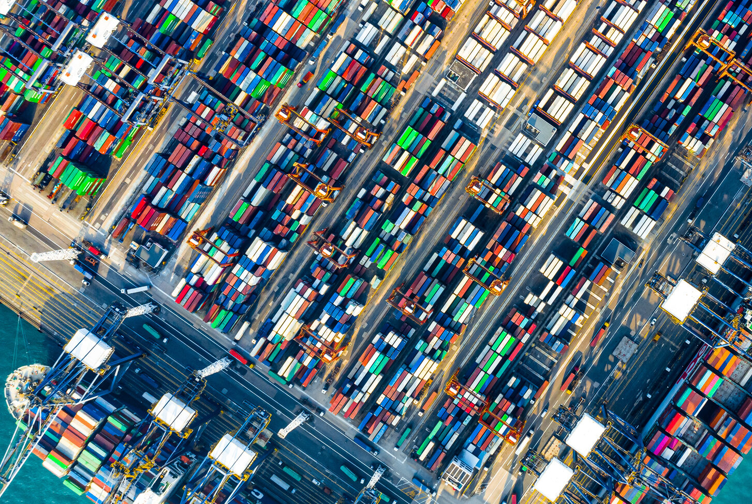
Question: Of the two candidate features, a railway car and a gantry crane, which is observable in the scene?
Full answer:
There is a gantry crane in the scene.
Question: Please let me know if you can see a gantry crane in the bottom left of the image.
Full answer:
Yes, a gantry crane appears in the bottom left of the image.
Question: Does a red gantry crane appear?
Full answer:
No, the scene contains no red gantry crane.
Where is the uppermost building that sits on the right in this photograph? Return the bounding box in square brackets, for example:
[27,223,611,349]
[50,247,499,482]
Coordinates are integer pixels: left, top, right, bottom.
[445,60,477,91]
